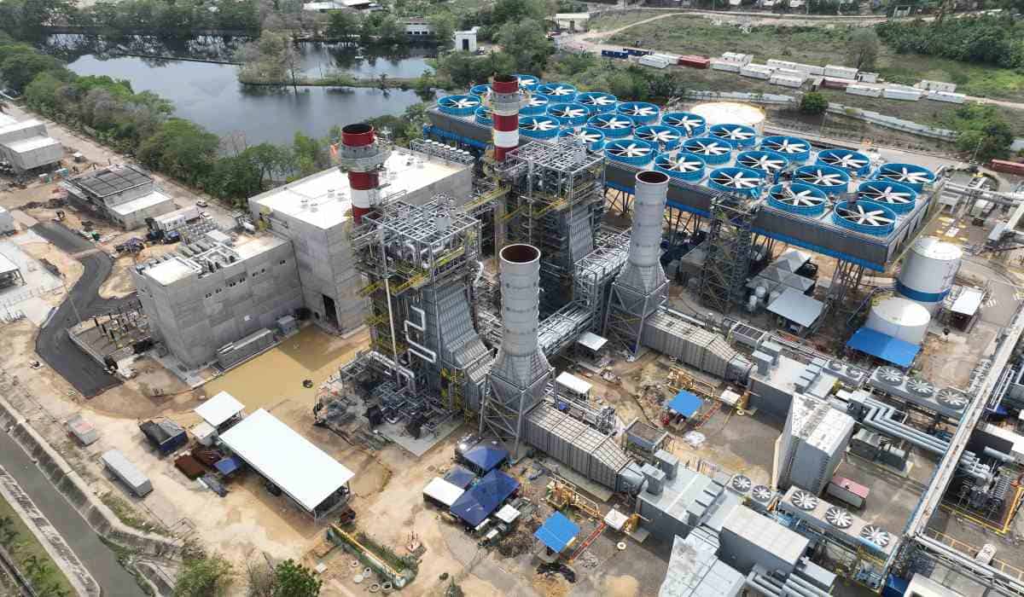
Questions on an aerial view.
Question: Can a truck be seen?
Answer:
Yes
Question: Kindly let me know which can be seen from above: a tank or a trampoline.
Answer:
tank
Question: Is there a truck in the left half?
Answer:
Yes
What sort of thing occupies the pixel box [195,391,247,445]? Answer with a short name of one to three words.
shed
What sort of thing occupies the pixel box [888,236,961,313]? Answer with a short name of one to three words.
storage tank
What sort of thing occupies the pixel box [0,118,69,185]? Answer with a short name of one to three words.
building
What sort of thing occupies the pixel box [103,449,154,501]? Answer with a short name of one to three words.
trailer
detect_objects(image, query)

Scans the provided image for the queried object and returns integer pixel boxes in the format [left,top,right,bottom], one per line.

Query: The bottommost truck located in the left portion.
[330,501,363,528]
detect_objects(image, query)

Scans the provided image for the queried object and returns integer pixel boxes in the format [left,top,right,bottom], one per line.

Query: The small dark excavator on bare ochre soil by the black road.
[49,203,68,223]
